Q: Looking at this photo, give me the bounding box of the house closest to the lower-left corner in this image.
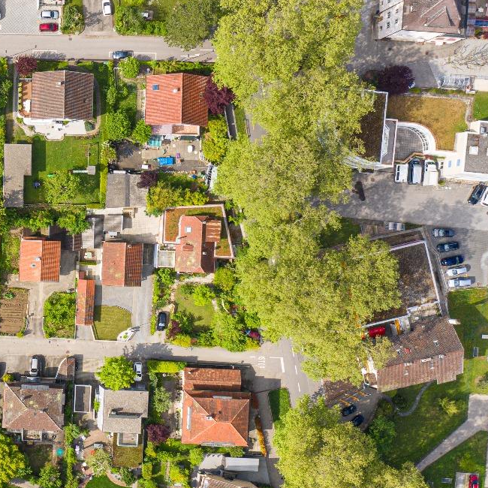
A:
[1,384,65,440]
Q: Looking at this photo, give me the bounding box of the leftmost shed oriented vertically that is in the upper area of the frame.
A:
[2,144,32,208]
